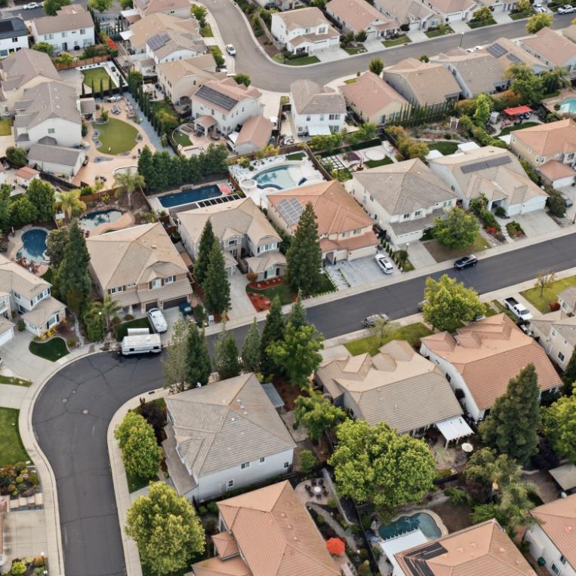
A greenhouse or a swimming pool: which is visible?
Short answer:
swimming pool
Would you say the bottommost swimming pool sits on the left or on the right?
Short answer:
right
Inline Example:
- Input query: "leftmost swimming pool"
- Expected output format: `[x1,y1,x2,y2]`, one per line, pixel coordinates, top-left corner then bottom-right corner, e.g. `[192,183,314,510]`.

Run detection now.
[18,228,50,263]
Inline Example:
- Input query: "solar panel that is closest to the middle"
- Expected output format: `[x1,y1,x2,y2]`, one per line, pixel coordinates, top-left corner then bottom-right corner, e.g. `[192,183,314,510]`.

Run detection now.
[276,198,305,223]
